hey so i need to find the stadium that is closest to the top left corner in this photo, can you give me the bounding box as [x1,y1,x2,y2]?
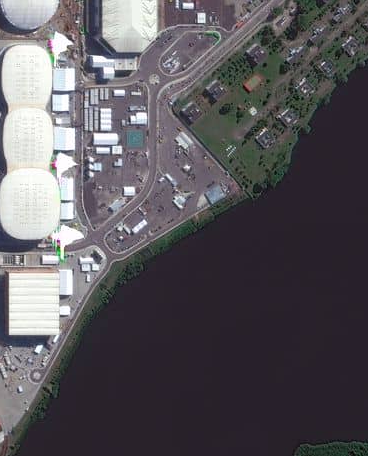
[0,43,54,108]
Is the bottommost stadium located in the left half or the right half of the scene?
left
